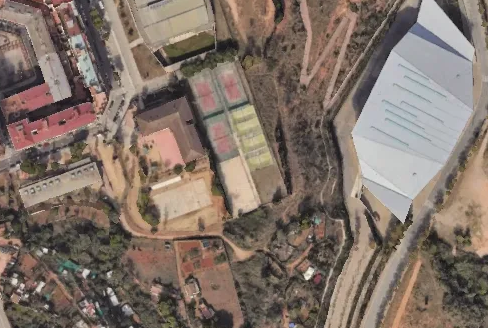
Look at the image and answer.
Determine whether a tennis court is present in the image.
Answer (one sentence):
Yes, a tennis court can be made out from above.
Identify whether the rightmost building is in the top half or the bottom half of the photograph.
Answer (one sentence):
The top half of the photo is where the rightmost building is.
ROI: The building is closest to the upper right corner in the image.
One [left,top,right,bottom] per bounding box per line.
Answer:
[352,0,474,222]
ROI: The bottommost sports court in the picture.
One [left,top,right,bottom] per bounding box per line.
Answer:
[154,179,212,222]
